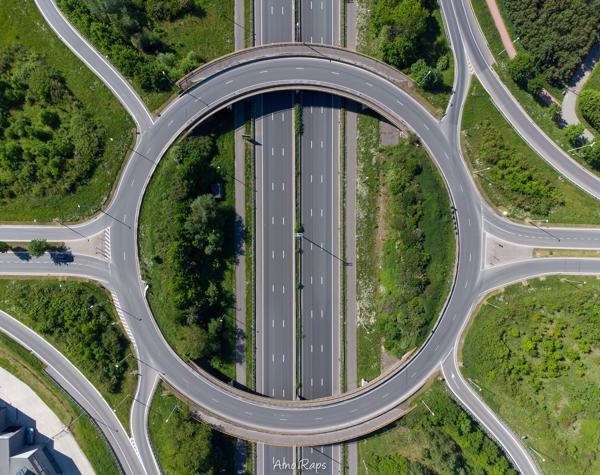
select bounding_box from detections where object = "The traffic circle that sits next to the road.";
[104,54,486,434]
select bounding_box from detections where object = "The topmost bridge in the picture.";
[174,40,422,136]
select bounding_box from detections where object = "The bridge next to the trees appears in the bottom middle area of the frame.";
[176,346,418,447]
